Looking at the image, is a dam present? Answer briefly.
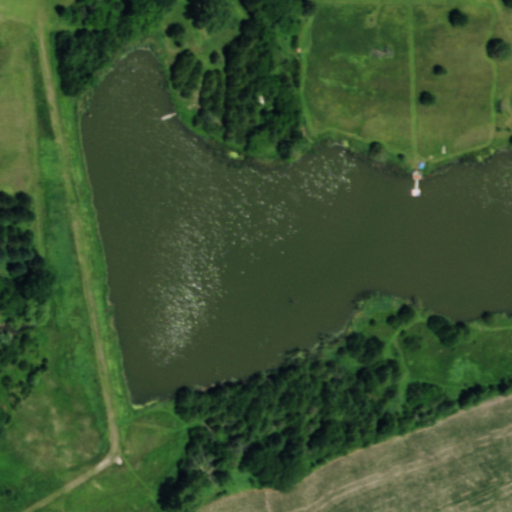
Yes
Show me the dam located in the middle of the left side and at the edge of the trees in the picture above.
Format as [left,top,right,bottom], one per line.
[27,30,134,444]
